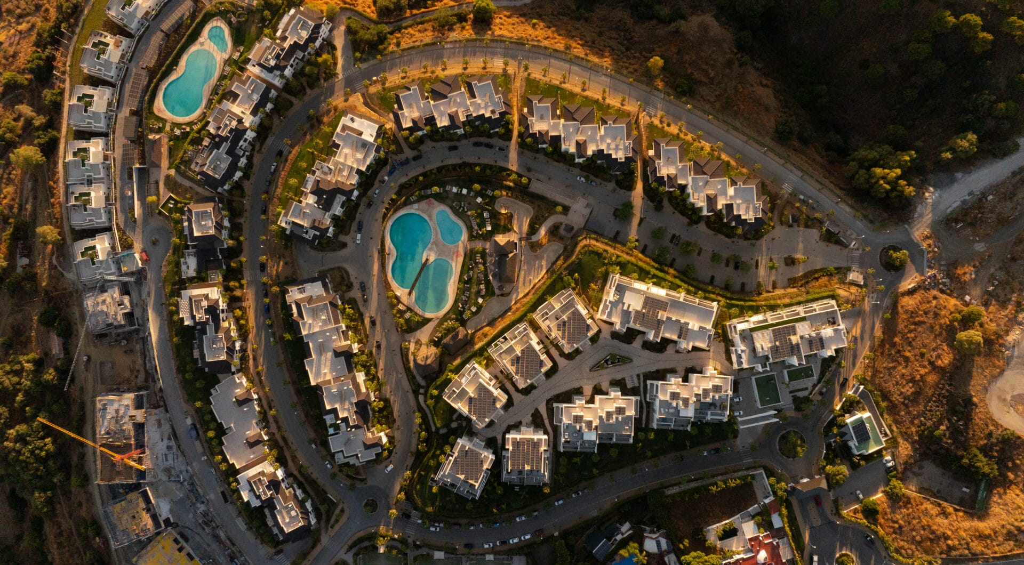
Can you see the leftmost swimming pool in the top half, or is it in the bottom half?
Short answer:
top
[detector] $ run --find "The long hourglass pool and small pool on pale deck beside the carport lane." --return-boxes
[153,17,232,123]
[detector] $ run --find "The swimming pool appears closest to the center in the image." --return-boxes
[385,198,467,318]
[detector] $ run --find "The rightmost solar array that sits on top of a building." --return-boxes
[853,423,871,445]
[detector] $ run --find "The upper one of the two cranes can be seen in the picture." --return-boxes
[62,250,138,390]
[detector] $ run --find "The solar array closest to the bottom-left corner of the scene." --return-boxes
[457,451,482,482]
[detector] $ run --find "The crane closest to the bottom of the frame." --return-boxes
[35,418,149,472]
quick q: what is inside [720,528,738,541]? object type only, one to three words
swimming pool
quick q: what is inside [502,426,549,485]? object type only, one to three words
building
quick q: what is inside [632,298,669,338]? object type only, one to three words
solar array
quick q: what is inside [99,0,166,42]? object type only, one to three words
house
